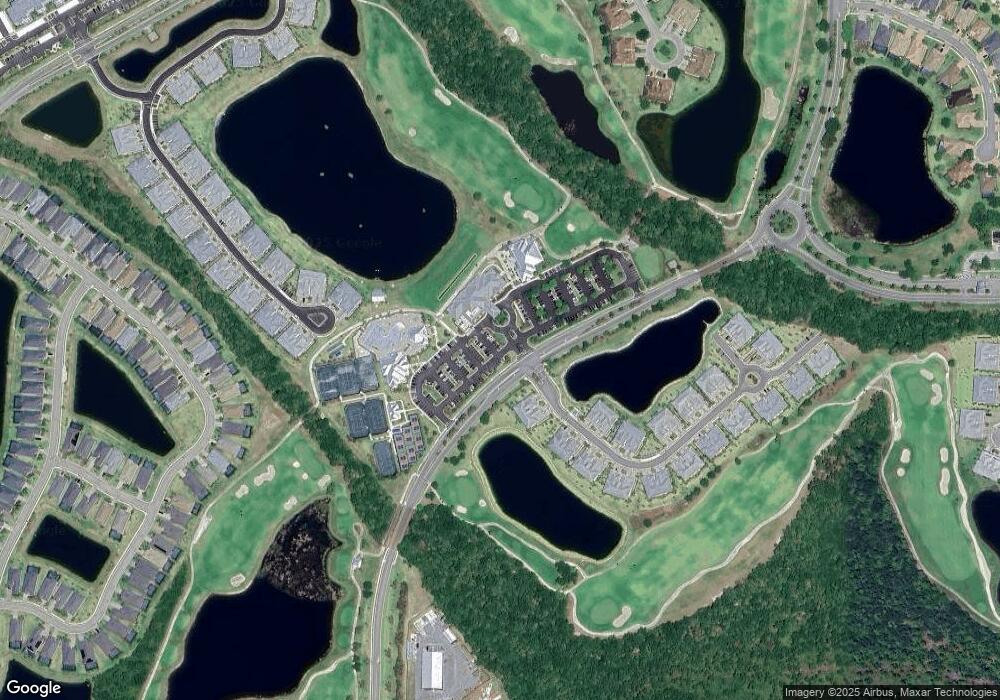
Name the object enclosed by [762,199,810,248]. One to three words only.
roundabout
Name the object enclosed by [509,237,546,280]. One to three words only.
building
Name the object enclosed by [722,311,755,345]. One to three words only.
house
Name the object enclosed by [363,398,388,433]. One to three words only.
tennis court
